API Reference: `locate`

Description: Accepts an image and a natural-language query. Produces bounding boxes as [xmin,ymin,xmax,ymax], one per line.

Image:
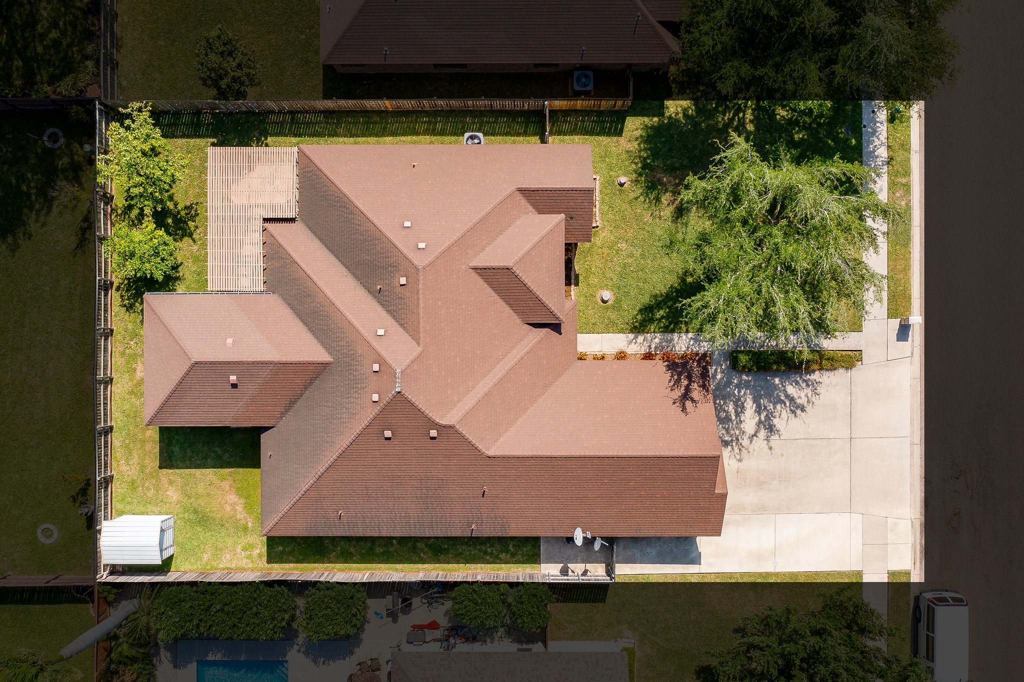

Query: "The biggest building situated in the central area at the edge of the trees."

[143,142,727,539]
